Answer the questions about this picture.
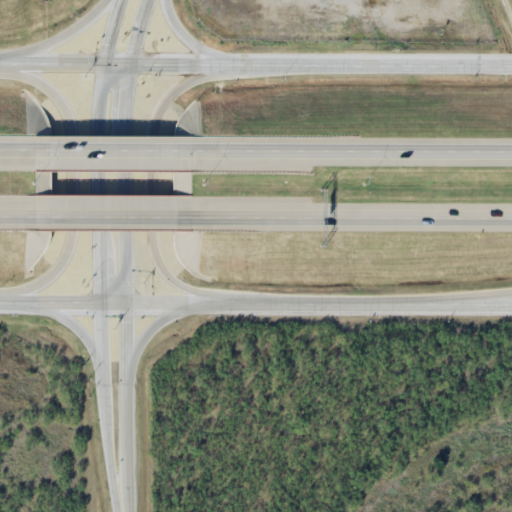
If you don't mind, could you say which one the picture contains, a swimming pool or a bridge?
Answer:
bridge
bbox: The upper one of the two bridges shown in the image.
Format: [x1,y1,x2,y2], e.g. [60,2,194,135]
[36,136,192,171]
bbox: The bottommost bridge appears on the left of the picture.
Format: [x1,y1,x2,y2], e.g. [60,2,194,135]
[36,195,192,230]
